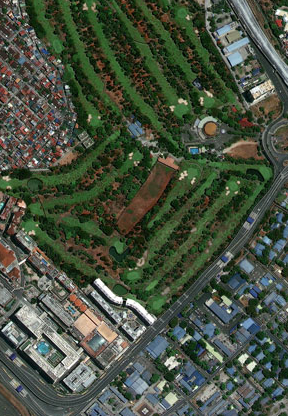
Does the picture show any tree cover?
Yes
